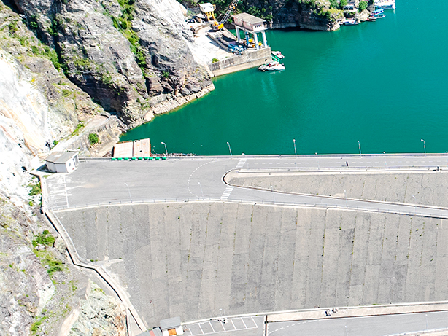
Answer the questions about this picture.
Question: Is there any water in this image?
Yes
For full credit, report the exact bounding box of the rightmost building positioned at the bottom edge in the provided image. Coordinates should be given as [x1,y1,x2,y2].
[158,313,182,336]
